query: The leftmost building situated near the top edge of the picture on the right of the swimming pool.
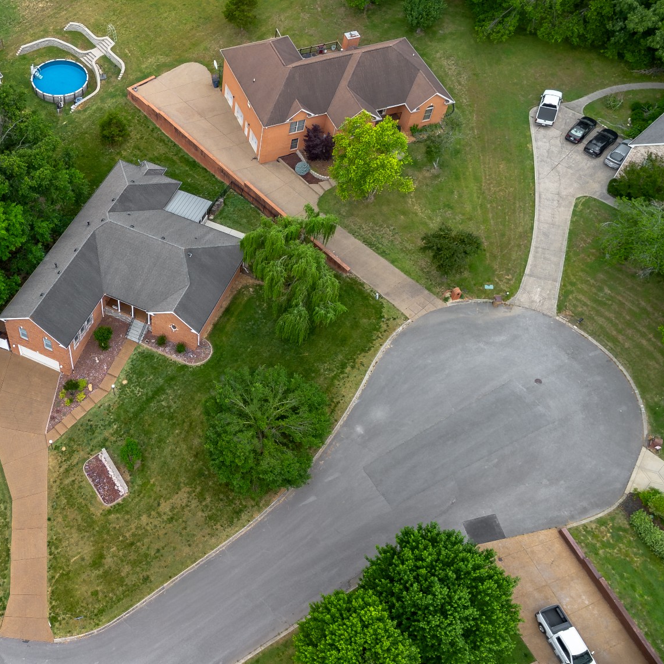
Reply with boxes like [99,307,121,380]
[220,29,455,160]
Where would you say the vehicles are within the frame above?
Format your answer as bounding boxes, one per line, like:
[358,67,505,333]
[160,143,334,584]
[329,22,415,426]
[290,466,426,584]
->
[581,126,623,159]
[535,601,597,664]
[604,136,634,170]
[534,88,563,129]
[563,115,600,145]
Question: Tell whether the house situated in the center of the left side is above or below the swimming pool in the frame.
below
